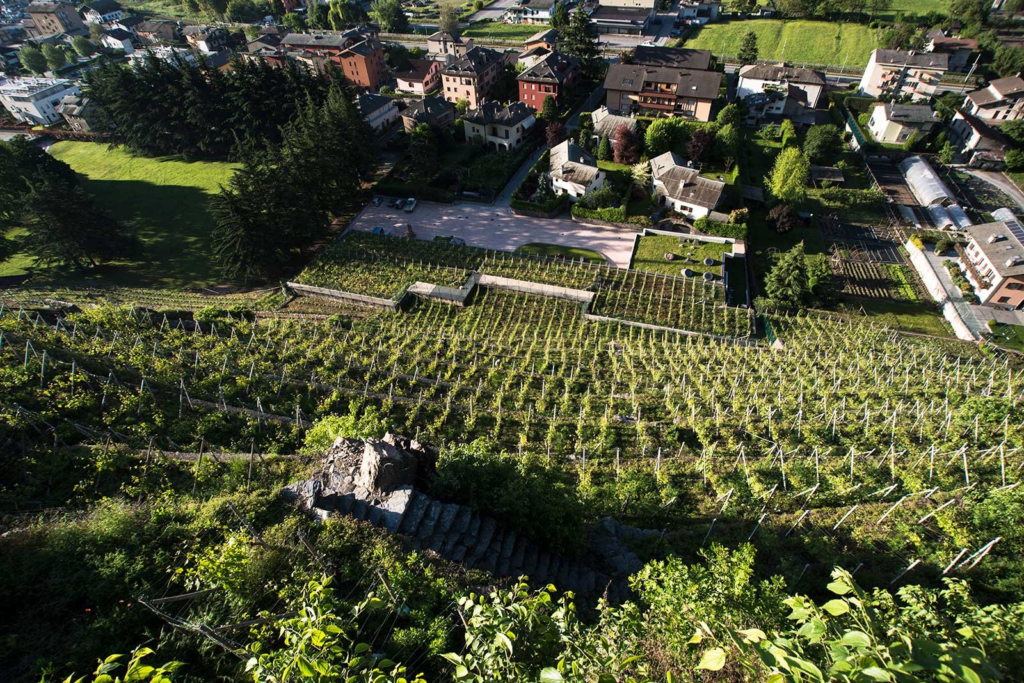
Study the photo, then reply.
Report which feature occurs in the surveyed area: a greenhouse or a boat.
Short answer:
greenhouse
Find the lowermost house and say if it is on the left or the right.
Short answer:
right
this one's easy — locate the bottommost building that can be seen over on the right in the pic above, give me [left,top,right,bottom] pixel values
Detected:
[944,227,1024,306]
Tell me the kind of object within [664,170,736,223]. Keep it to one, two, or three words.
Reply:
house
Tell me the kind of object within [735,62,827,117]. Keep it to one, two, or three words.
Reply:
house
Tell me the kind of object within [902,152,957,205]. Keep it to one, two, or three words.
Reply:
greenhouse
